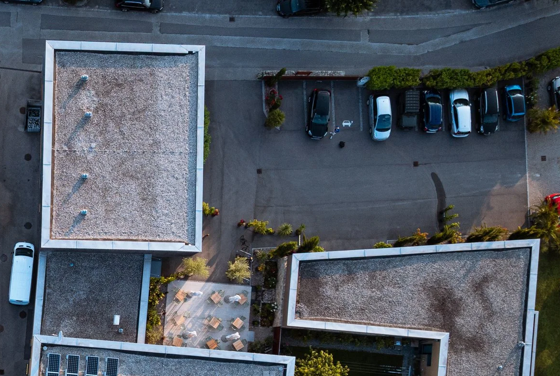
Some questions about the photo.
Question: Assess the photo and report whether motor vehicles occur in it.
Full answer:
Yes, the picture does show a motor vehicle.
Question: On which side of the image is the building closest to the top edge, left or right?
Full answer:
You can find the building closest to the top edge on the left side of the picture.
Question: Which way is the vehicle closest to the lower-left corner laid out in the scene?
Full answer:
What the image shows is the vehicle closest to the lower-left corner lying up and down.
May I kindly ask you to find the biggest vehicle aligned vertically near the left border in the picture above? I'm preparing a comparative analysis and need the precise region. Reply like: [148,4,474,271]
[11,242,37,306]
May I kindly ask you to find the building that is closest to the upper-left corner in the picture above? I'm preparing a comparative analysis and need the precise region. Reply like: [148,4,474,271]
[37,41,205,262]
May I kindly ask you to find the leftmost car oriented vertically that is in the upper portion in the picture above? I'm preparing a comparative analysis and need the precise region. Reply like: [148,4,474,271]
[305,88,330,141]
